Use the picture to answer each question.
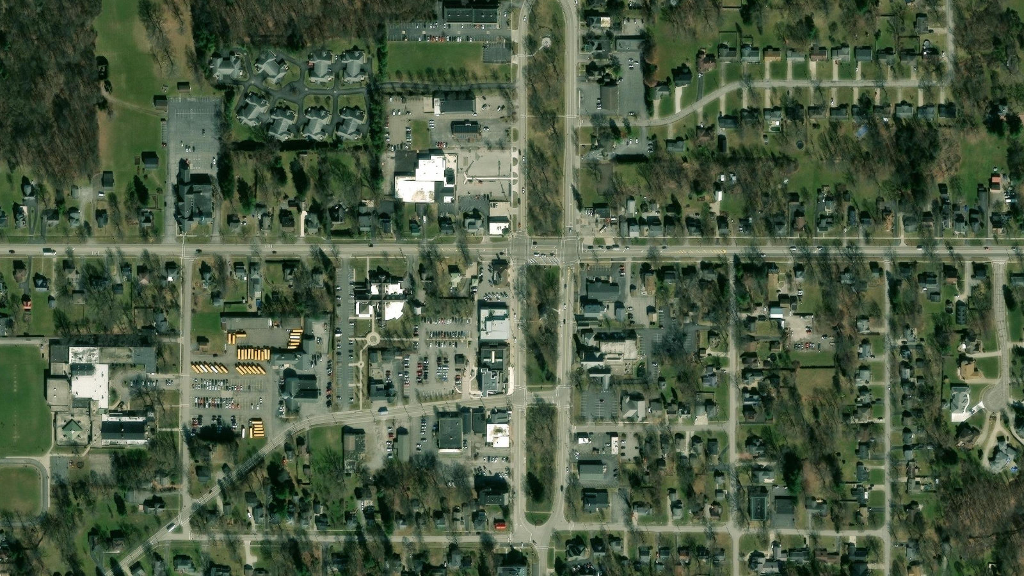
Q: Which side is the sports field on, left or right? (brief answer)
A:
left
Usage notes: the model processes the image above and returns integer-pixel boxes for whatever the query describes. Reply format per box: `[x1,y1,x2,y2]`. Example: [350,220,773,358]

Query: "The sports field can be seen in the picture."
[0,346,51,456]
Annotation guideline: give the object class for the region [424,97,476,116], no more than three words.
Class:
building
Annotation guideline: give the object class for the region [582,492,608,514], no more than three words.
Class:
house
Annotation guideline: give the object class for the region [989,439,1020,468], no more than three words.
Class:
house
